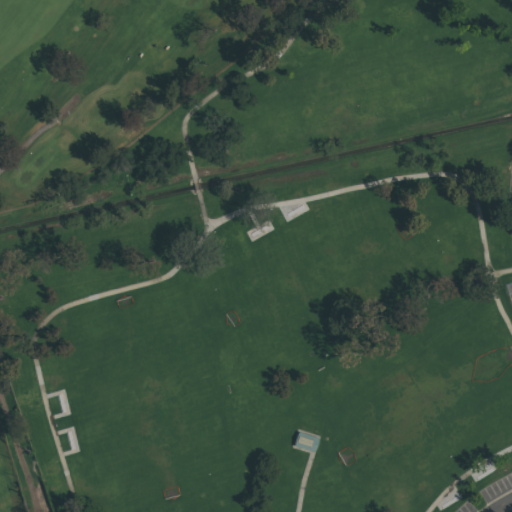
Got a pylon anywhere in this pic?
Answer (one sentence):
No, I find no pylon anywhere in the image.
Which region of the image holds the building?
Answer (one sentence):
You can find the building in the bottom area of the picture.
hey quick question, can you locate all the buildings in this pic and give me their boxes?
[293,430,322,452]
